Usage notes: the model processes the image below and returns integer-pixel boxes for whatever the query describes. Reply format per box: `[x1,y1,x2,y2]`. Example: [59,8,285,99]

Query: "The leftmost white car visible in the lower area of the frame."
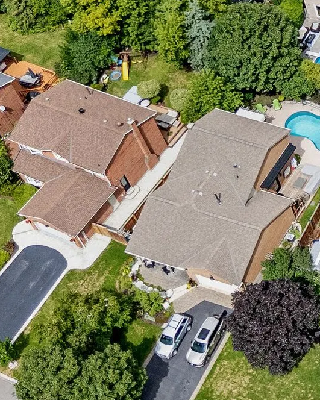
[154,315,192,360]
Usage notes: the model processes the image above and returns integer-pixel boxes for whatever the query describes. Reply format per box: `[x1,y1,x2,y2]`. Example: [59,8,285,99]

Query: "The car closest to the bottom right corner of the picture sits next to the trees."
[188,313,225,365]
